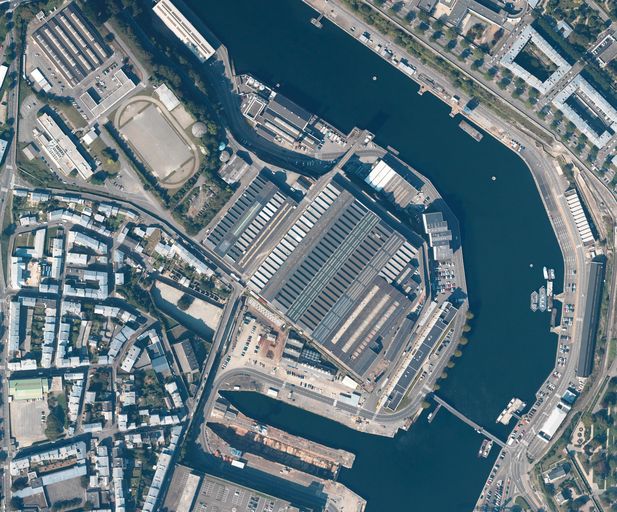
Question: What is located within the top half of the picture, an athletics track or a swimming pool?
athletics track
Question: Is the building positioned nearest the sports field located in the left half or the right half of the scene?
left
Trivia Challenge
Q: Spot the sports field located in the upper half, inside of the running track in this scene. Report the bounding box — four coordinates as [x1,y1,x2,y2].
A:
[121,103,194,181]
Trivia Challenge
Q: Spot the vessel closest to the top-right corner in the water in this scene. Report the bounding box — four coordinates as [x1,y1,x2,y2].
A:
[460,120,483,142]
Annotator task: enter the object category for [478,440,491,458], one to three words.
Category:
ship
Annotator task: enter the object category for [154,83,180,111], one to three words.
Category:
building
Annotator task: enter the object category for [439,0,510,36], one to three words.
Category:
building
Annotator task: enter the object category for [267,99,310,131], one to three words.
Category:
shed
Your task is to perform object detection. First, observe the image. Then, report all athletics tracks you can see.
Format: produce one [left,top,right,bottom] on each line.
[112,92,202,191]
